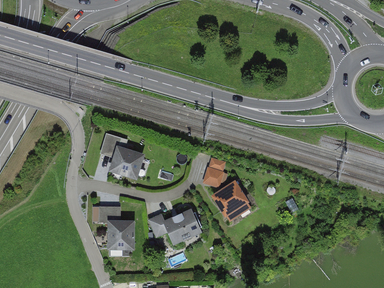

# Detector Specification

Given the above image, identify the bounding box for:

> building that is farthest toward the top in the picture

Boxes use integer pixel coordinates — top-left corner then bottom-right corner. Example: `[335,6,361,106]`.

[101,134,128,156]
